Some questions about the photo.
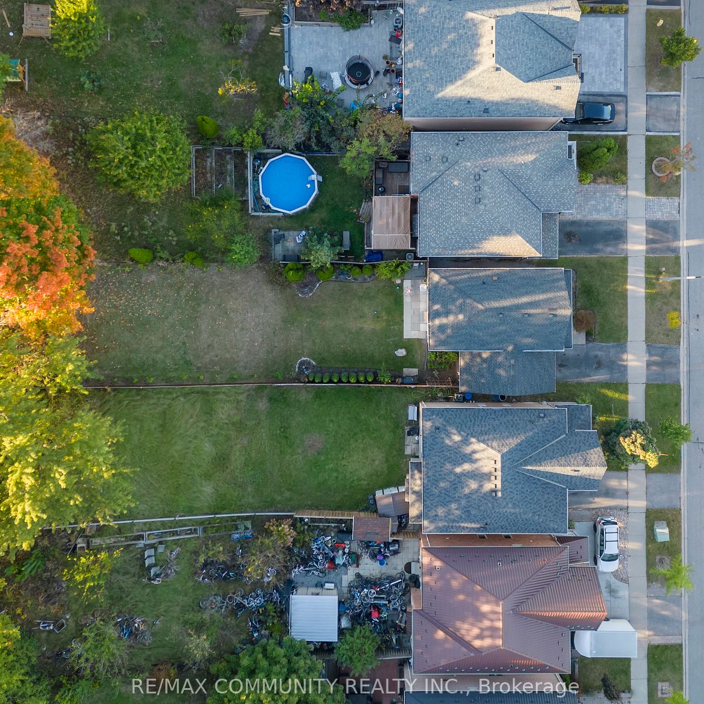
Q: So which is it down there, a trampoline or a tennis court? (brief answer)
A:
trampoline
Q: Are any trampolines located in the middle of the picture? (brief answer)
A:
No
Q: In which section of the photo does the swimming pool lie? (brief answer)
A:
top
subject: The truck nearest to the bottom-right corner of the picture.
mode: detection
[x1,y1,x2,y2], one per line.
[571,617,637,657]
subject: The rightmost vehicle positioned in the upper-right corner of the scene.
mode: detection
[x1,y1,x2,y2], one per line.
[560,100,617,127]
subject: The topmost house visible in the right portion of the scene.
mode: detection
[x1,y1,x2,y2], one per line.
[403,0,582,131]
